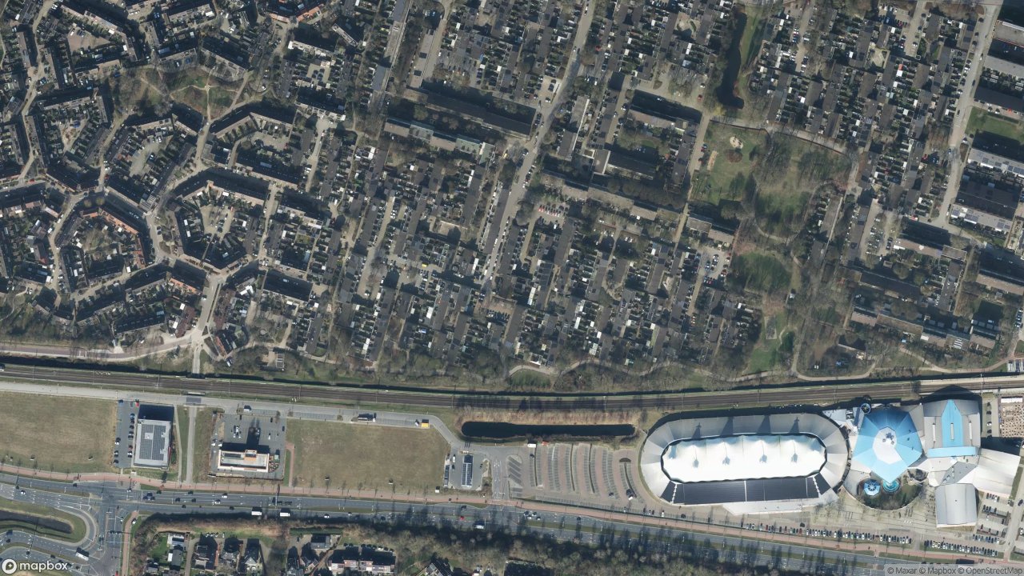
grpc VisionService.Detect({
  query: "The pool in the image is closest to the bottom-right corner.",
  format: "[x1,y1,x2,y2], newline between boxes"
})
[882,479,900,493]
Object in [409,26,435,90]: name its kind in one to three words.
building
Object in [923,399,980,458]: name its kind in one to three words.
building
